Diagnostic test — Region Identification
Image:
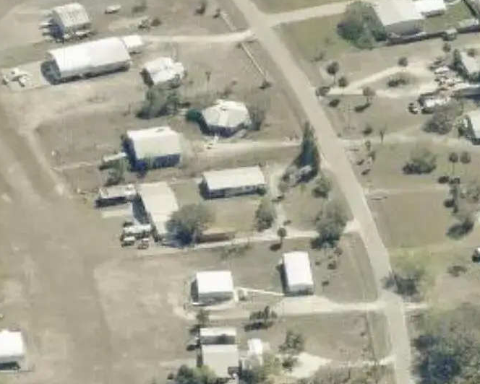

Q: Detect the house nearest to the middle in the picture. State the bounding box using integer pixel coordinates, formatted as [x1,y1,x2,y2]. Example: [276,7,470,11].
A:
[204,167,265,196]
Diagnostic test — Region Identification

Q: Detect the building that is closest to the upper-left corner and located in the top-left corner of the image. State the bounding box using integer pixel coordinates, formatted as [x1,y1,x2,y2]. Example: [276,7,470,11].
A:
[52,3,89,33]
